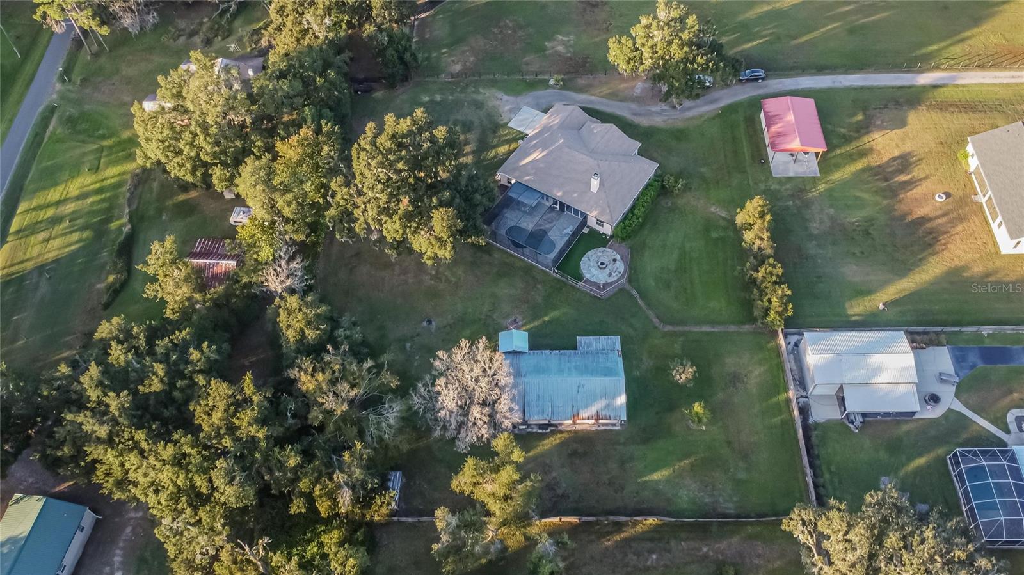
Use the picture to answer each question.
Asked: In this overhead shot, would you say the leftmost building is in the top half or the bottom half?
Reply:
bottom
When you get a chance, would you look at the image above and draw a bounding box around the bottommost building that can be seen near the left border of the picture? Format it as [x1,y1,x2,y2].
[0,494,107,575]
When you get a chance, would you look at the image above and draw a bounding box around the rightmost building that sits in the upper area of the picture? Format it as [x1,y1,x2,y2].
[962,130,1024,255]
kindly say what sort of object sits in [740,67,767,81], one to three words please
car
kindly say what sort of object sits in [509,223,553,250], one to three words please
swimming pool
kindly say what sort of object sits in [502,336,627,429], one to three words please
barn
